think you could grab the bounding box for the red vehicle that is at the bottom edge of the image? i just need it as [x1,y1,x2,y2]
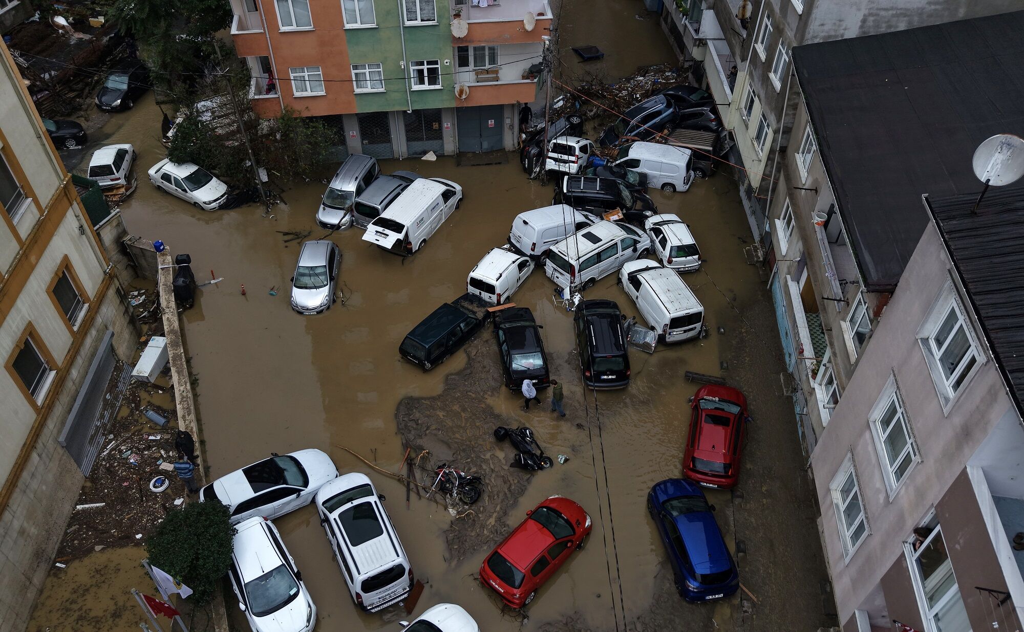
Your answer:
[484,503,585,607]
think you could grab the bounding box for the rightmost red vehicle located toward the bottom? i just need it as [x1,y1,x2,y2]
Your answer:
[685,385,752,489]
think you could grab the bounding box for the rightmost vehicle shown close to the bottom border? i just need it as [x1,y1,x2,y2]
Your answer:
[651,477,739,605]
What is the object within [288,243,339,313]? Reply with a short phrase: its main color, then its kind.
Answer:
gray car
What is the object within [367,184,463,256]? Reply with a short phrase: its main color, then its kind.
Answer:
white van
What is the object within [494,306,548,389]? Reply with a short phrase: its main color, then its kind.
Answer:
black car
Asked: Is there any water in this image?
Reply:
Yes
